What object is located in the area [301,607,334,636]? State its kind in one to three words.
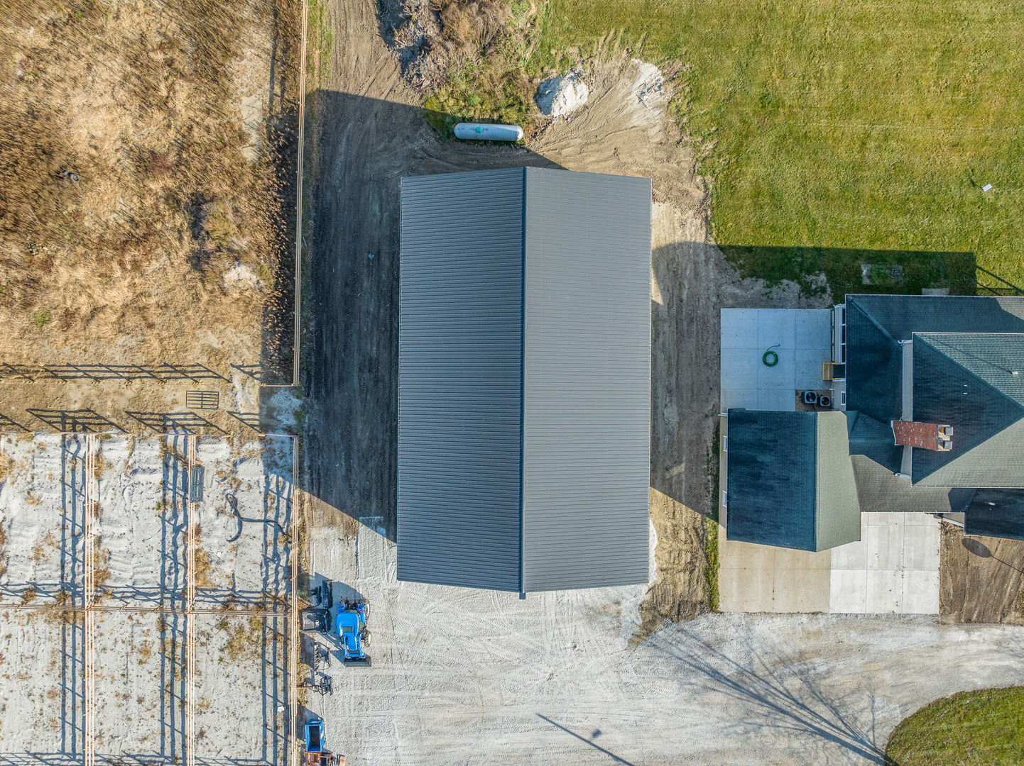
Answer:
vehicle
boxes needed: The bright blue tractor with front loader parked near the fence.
[334,597,371,664]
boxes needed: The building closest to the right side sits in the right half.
[714,292,1024,554]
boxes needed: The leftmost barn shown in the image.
[396,167,653,600]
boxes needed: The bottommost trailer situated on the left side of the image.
[303,714,327,755]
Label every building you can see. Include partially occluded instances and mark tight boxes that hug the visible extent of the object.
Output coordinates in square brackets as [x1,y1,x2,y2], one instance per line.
[714,292,1024,554]
[396,167,653,600]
